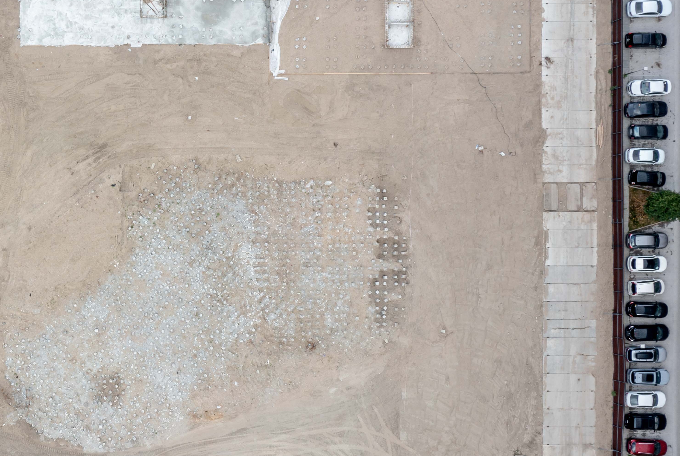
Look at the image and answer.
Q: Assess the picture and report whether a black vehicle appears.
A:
Yes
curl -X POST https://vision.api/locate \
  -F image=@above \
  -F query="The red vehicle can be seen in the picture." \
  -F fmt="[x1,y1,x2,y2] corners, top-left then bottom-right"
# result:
[624,437,667,456]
